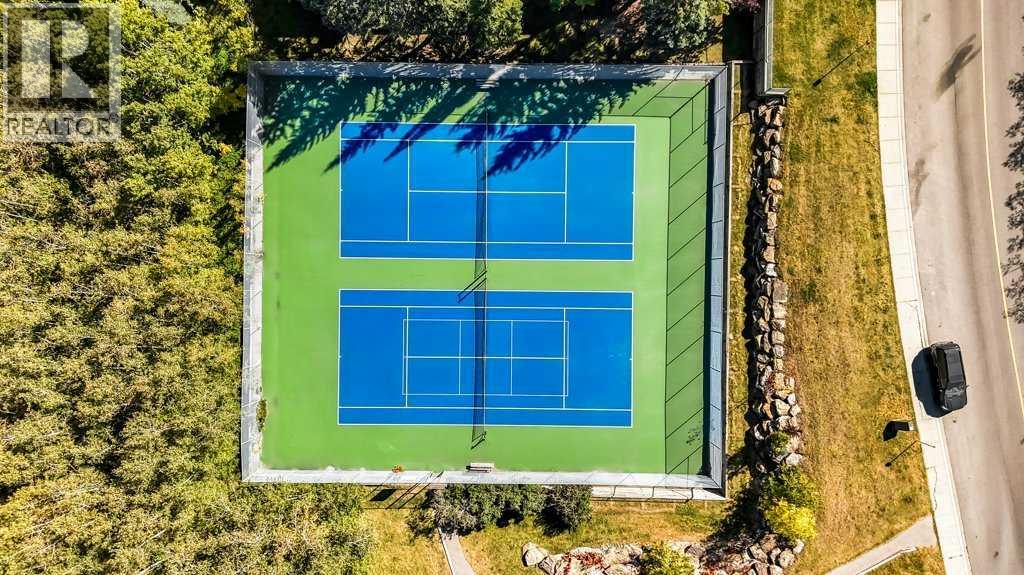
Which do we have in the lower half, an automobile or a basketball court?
automobile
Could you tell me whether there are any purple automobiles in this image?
No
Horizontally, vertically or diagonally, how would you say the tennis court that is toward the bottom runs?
horizontally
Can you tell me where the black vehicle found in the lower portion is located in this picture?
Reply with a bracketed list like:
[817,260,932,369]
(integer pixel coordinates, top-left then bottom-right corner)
[929,341,972,412]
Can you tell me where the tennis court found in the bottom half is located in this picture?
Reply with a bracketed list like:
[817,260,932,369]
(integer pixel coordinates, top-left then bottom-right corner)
[338,289,634,427]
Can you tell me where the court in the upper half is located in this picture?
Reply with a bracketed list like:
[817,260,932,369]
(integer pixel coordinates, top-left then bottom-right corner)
[340,122,635,260]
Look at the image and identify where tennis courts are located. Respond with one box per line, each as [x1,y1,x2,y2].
[340,122,635,260]
[338,289,634,427]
